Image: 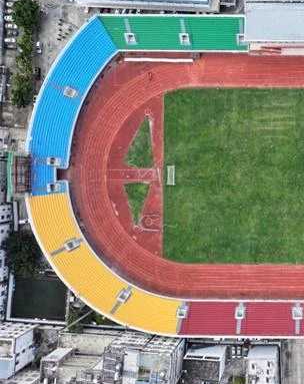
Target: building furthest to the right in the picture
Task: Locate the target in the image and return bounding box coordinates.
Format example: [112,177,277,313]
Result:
[246,344,280,384]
